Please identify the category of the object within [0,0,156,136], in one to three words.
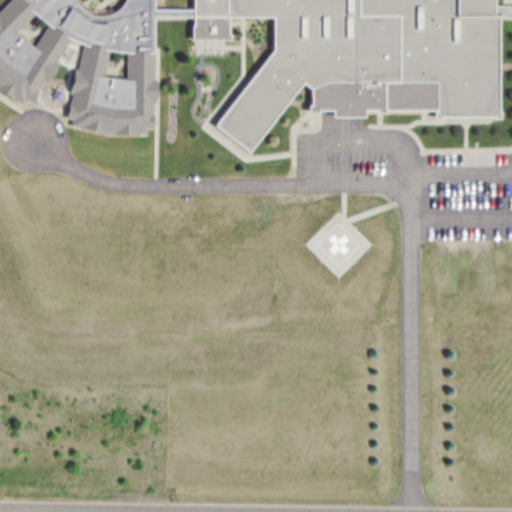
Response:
house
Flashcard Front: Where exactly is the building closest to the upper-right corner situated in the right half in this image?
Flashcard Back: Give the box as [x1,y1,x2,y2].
[195,0,504,154]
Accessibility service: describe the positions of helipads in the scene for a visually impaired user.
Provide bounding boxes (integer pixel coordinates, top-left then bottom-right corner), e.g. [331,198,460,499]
[306,212,372,278]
